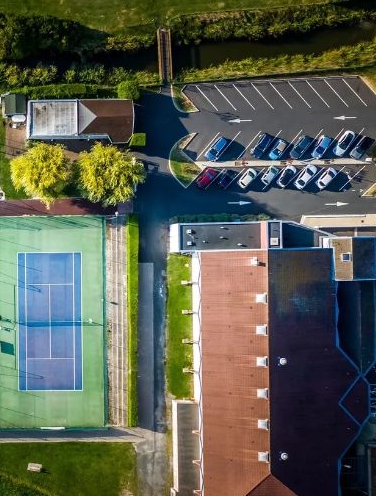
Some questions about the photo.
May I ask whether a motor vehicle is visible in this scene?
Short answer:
Yes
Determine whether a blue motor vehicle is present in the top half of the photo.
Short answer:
Yes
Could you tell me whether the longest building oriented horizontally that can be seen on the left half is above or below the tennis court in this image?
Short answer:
above it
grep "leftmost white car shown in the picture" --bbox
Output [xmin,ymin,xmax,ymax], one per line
[236,166,258,189]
